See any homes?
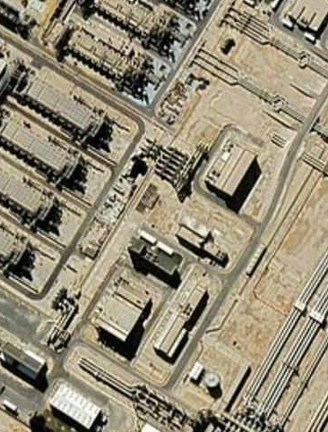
Yes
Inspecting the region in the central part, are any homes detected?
Yes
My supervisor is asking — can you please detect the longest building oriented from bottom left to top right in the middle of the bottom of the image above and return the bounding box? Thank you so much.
[153,280,209,356]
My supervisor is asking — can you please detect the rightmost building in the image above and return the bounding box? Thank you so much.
[284,0,328,36]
